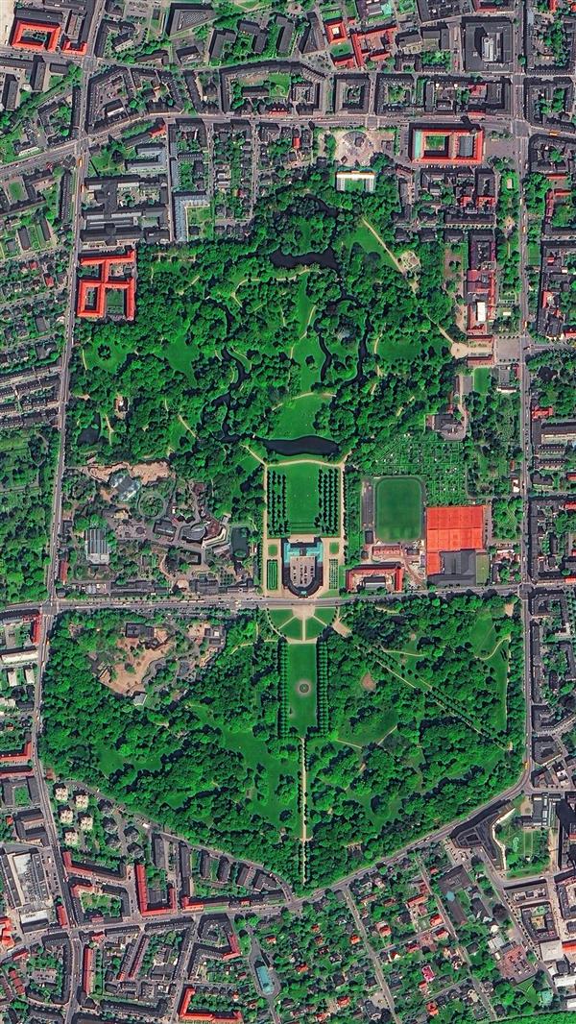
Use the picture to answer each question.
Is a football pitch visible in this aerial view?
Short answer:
Yes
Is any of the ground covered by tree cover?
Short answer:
Yes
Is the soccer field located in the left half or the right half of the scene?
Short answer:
right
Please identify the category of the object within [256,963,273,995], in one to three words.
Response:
building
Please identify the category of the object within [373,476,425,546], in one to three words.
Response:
soccer field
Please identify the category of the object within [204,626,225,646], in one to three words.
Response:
house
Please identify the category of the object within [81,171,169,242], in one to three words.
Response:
building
